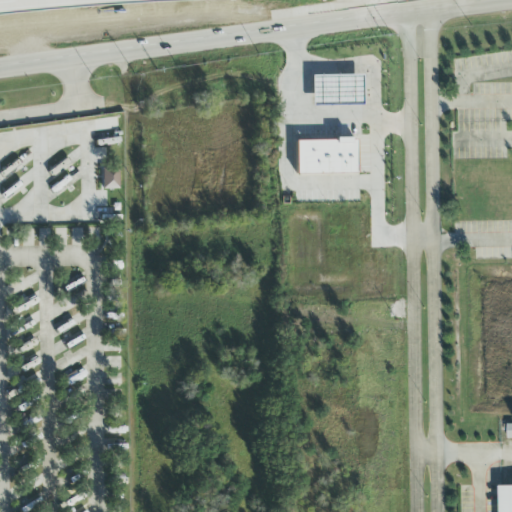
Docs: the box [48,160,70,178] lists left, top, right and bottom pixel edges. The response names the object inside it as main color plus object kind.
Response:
white camper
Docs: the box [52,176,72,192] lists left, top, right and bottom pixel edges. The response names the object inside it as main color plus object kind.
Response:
white camper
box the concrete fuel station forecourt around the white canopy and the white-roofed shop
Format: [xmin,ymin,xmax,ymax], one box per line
[262,35,410,250]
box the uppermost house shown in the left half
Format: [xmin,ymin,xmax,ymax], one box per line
[104,168,121,190]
